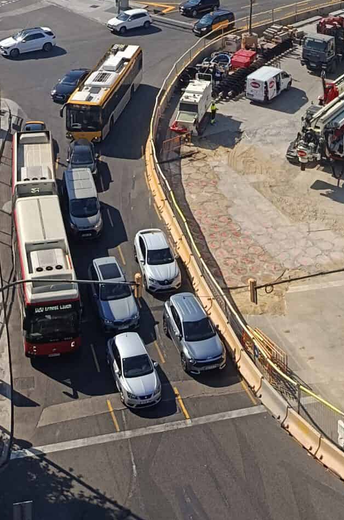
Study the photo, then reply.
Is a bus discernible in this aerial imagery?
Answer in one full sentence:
Yes, you can see a bus in this photo.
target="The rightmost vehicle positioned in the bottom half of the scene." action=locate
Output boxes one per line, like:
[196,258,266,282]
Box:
[162,293,227,379]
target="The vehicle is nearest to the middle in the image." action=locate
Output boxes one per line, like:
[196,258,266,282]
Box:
[135,230,181,294]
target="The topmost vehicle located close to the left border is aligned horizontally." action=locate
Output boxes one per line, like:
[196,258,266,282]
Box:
[1,28,55,57]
